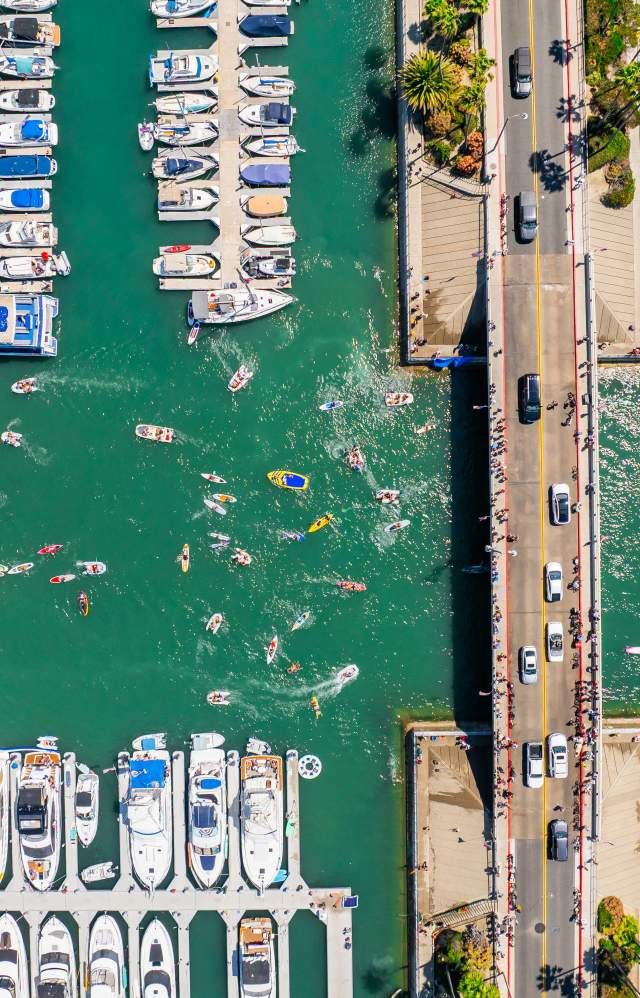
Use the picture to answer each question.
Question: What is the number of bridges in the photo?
1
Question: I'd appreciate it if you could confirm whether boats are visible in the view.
Yes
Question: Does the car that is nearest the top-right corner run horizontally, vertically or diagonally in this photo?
vertically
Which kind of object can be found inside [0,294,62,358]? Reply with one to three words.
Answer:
boat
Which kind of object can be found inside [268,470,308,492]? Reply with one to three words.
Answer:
boat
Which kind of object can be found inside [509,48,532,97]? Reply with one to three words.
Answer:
car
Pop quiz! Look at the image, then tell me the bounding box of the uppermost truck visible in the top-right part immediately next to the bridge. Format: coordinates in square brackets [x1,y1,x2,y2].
[515,192,538,245]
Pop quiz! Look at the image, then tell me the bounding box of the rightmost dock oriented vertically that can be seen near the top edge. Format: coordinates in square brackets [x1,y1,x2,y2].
[157,0,292,293]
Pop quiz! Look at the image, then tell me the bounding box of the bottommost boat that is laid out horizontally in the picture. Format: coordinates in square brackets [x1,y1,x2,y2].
[80,861,117,880]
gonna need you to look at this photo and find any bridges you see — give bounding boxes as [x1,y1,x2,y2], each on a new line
[486,247,603,843]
